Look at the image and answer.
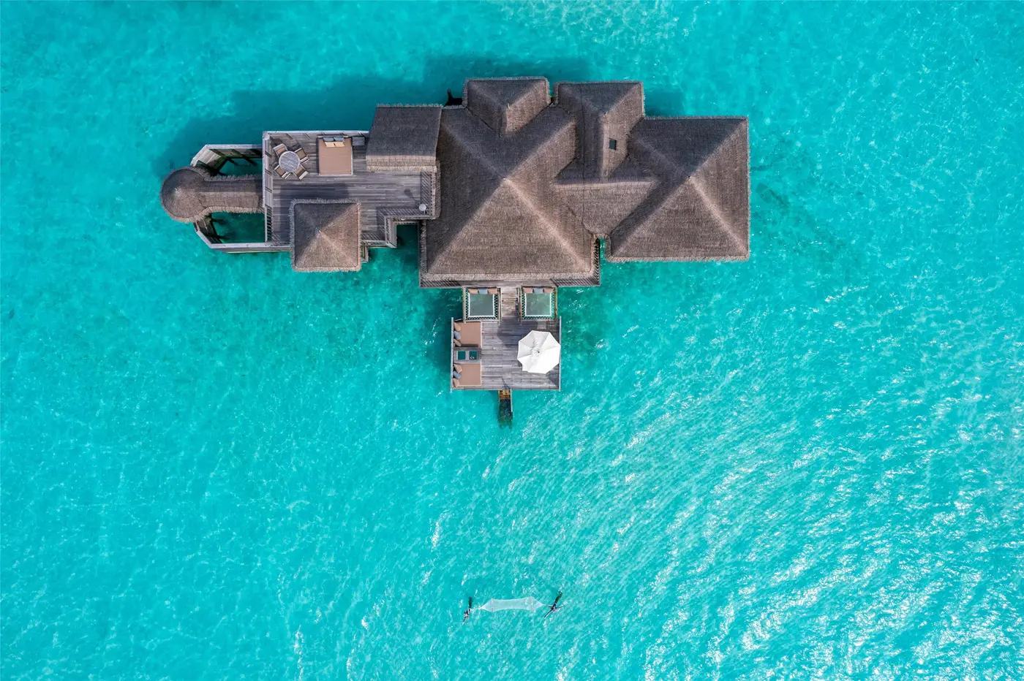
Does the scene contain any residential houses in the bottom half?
No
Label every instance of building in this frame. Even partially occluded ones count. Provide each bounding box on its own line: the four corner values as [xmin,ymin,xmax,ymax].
[159,163,271,225]
[287,197,364,273]
[419,74,753,287]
